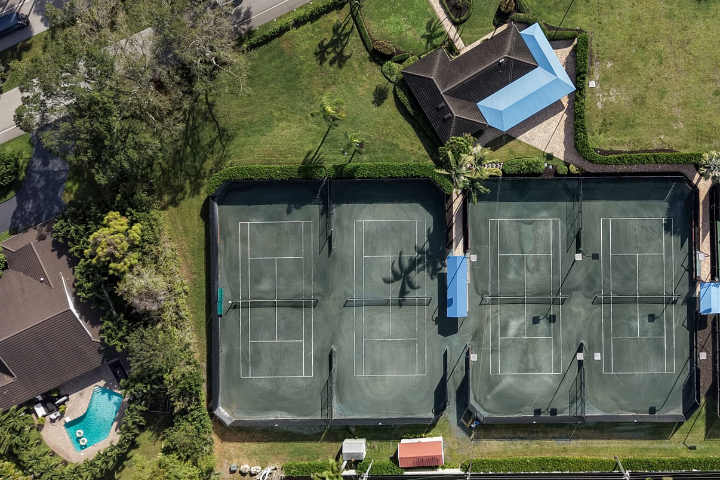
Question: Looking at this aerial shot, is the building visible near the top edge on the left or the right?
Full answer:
You can find the building visible near the top edge on the right side of the picture.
